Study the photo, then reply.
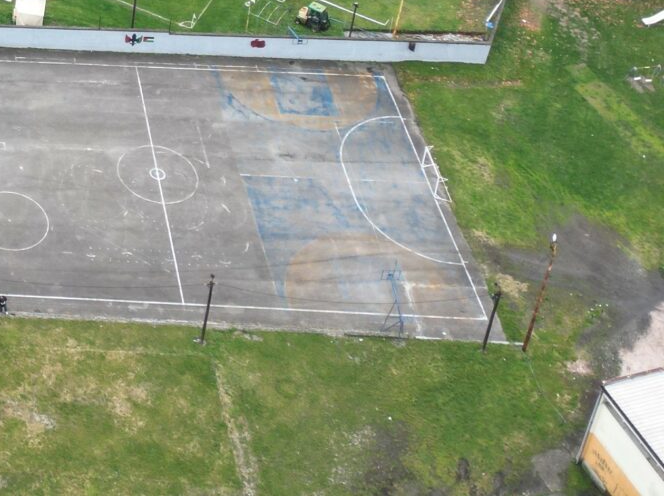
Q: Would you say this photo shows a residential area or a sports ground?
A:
sports ground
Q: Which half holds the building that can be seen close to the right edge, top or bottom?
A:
bottom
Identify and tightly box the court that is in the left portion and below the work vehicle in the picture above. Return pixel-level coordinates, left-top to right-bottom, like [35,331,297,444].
[0,46,528,349]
